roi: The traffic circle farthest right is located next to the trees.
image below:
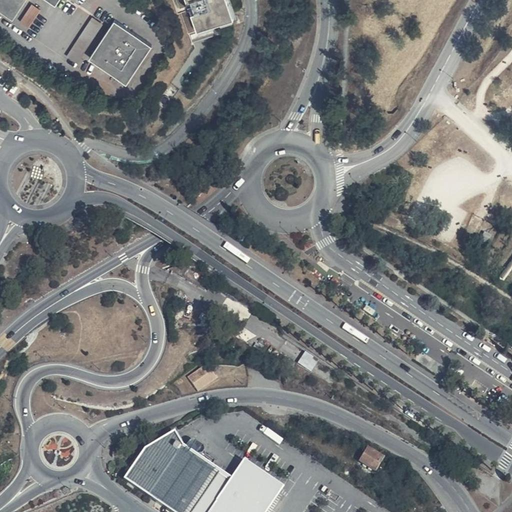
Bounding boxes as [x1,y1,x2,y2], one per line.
[242,136,334,228]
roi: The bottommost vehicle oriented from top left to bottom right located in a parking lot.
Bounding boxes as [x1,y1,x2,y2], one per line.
[320,486,339,501]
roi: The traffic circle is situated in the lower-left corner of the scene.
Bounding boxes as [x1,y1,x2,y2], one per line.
[20,414,96,490]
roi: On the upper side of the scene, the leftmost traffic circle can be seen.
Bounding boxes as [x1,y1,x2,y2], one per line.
[0,134,84,226]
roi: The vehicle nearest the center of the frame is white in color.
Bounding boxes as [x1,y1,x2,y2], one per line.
[221,240,252,264]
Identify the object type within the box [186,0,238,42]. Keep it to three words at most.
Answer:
building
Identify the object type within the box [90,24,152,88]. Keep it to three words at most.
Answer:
building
